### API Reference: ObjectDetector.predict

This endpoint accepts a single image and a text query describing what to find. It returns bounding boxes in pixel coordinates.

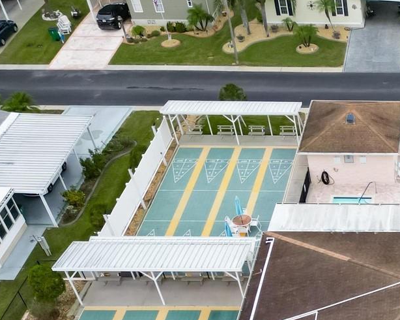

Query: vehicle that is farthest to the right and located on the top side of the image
[97,0,127,24]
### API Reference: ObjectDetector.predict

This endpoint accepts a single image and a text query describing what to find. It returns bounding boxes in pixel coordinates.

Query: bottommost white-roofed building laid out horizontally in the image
[51,238,253,305]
